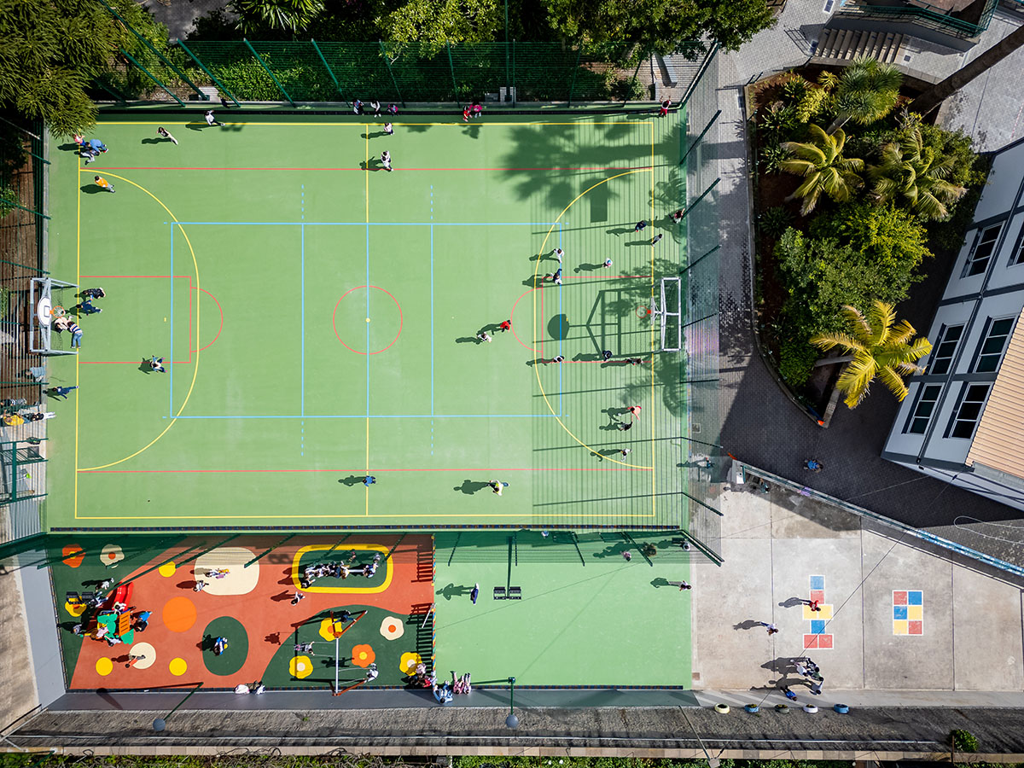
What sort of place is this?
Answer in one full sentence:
This image shows a sports ground.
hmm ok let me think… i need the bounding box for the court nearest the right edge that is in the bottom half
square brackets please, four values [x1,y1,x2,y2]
[434,535,692,688]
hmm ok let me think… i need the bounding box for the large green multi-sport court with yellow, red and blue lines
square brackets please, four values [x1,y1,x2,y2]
[44,103,688,535]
